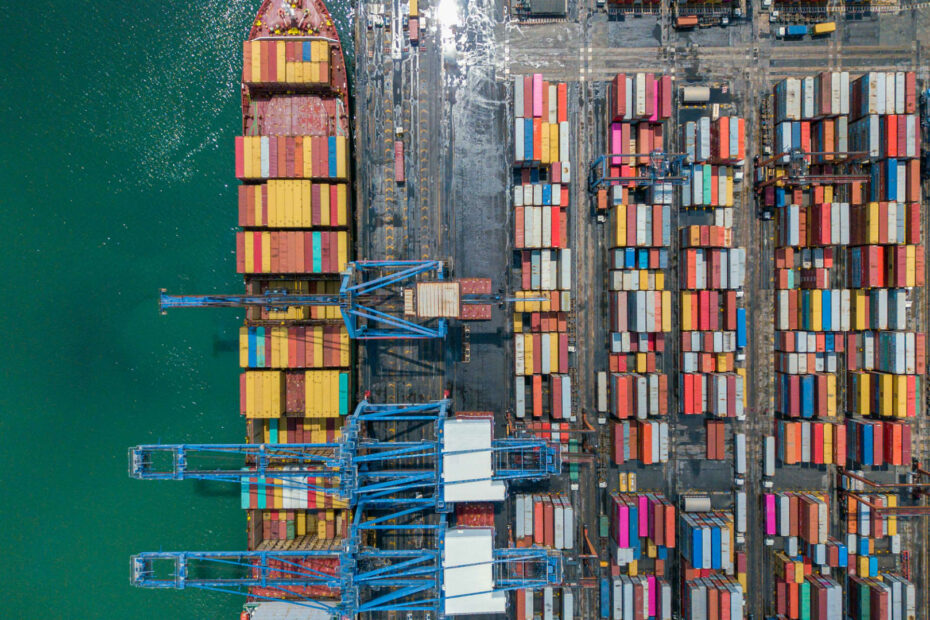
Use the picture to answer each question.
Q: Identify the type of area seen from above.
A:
port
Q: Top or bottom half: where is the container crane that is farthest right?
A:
bottom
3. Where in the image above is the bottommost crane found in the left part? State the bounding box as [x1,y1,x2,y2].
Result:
[125,481,561,616]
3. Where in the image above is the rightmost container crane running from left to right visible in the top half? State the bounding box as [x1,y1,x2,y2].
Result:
[756,148,872,192]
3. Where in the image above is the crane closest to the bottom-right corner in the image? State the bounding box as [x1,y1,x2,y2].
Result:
[837,460,930,514]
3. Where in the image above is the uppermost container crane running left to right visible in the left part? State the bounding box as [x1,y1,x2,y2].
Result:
[161,255,548,341]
